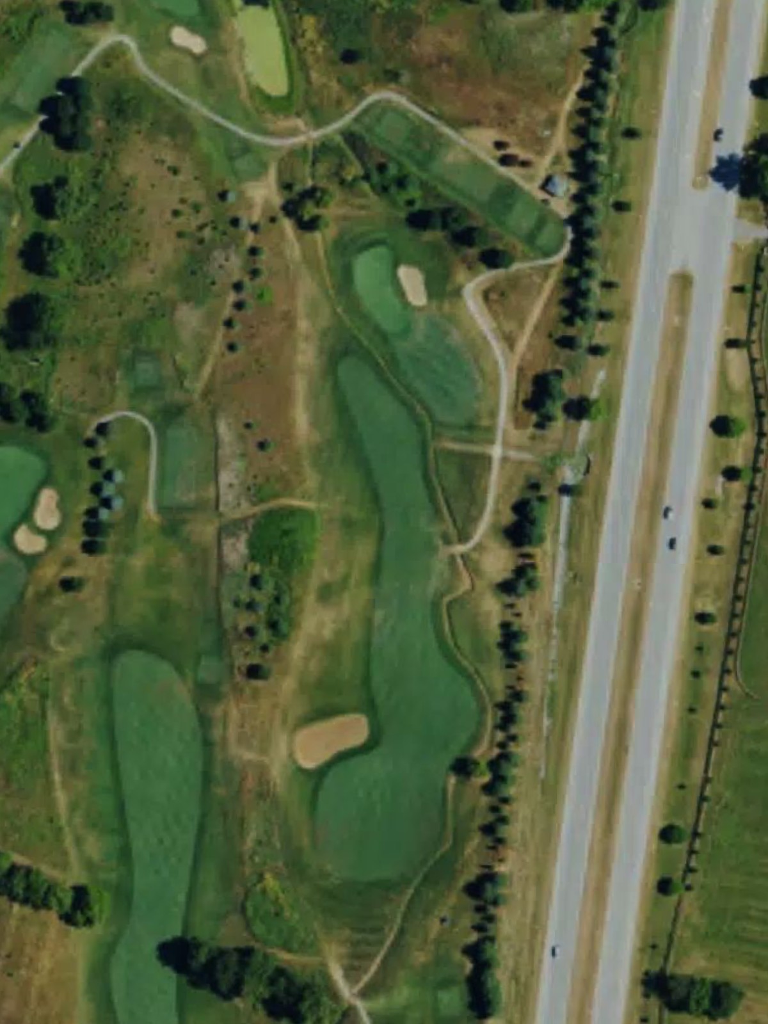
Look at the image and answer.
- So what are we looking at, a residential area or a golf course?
golf course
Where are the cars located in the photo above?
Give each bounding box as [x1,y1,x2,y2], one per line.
[554,945,560,958]
[670,537,676,550]
[718,128,724,141]
[667,507,673,520]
